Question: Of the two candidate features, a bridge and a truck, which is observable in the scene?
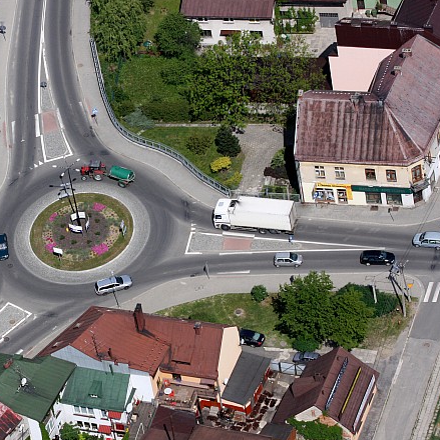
truck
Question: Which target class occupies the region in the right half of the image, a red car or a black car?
black car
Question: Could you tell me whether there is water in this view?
No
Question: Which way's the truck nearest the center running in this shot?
from side to side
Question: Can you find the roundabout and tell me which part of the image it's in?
left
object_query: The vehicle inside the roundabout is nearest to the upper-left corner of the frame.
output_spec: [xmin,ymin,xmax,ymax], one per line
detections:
[78,160,109,184]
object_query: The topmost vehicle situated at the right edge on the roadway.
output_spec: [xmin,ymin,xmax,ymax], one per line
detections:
[410,231,440,251]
